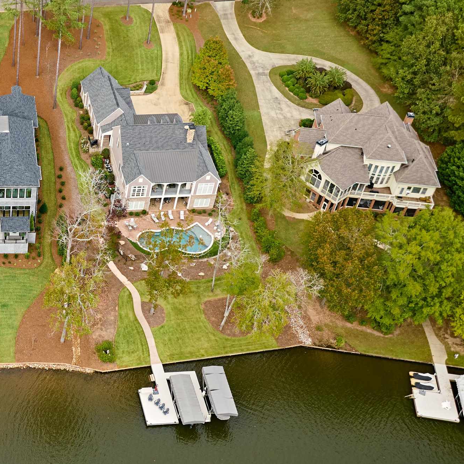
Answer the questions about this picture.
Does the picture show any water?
Yes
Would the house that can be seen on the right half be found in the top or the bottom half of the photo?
top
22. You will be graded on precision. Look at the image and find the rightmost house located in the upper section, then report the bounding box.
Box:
[289,98,441,221]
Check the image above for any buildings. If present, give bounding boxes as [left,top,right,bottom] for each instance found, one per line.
[289,98,441,221]
[81,76,223,212]
[0,84,43,220]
